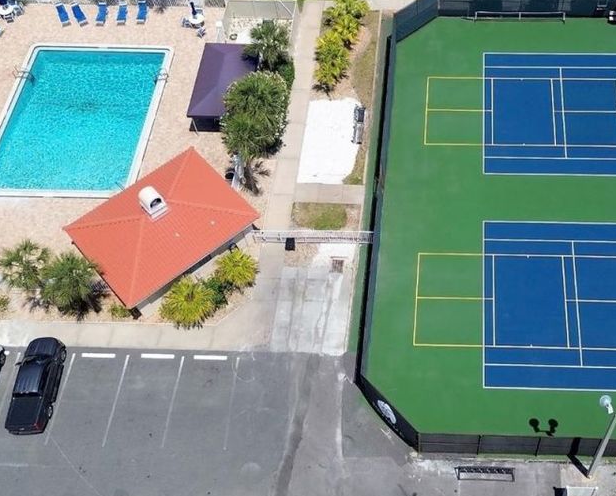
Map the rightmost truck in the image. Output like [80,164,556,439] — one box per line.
[4,335,68,435]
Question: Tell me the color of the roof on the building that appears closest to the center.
red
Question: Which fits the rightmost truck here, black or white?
black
